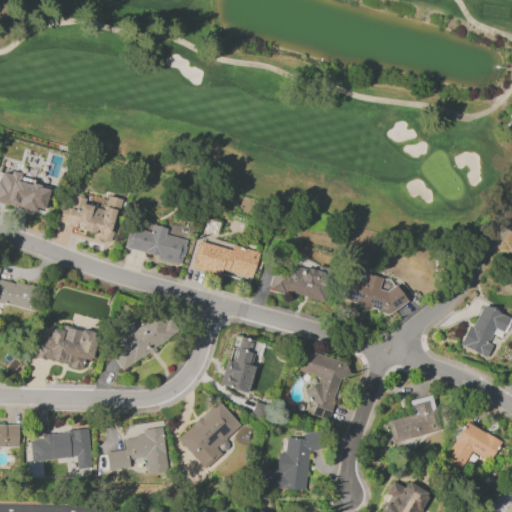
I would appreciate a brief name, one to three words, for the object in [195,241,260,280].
house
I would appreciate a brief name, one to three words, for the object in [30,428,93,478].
house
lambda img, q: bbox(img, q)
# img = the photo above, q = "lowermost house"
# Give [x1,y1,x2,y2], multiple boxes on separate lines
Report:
[381,478,432,512]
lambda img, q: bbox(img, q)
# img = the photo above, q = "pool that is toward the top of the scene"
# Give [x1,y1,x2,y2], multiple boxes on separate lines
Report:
[48,155,64,178]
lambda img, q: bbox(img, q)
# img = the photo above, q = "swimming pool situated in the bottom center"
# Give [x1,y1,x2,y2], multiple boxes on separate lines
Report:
[290,376,304,404]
